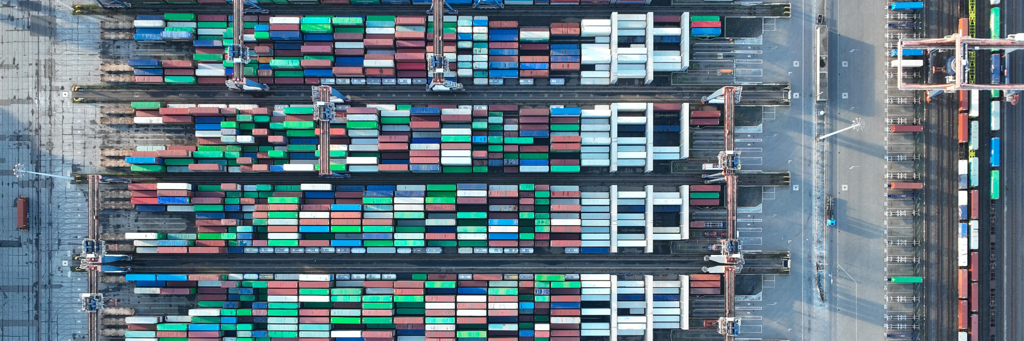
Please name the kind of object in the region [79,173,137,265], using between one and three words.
crane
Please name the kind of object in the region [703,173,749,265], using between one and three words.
crane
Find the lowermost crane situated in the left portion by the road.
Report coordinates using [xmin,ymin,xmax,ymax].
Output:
[75,265,137,341]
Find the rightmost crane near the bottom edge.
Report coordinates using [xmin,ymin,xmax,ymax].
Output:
[701,265,745,341]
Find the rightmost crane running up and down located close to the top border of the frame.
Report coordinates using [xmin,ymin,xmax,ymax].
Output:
[427,0,460,90]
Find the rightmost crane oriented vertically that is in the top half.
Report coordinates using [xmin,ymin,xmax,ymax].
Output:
[700,84,743,179]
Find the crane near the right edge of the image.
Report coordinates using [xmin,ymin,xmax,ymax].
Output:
[897,31,1024,106]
